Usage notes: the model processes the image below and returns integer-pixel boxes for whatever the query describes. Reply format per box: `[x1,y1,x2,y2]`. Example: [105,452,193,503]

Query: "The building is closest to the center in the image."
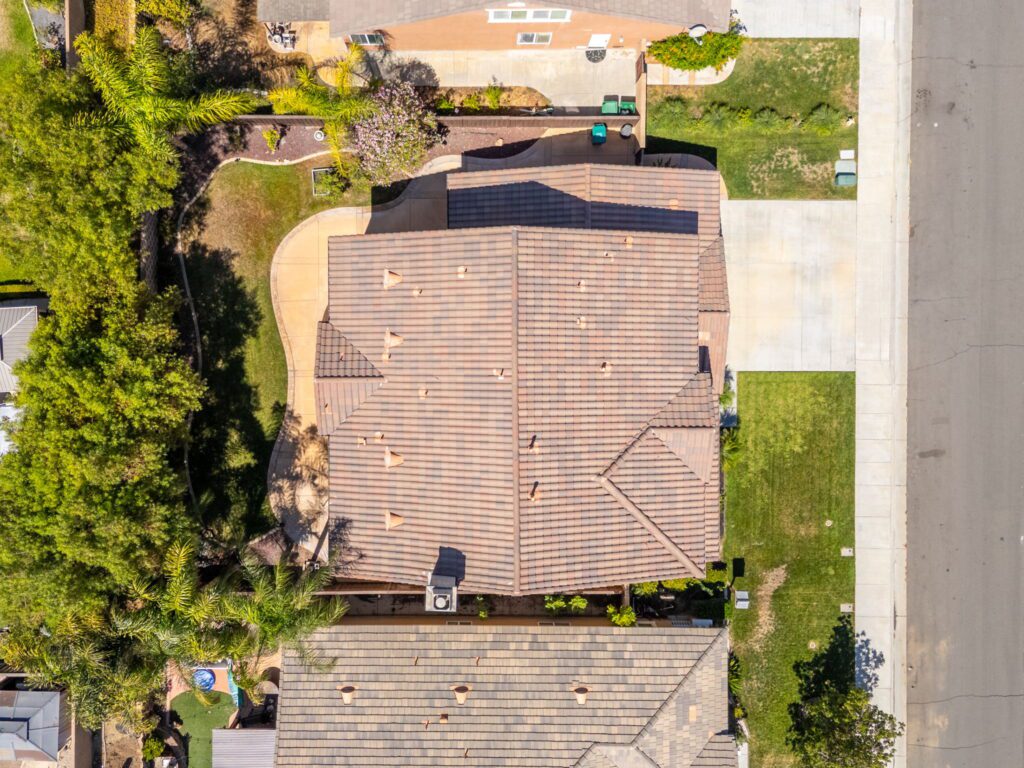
[311,160,732,611]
